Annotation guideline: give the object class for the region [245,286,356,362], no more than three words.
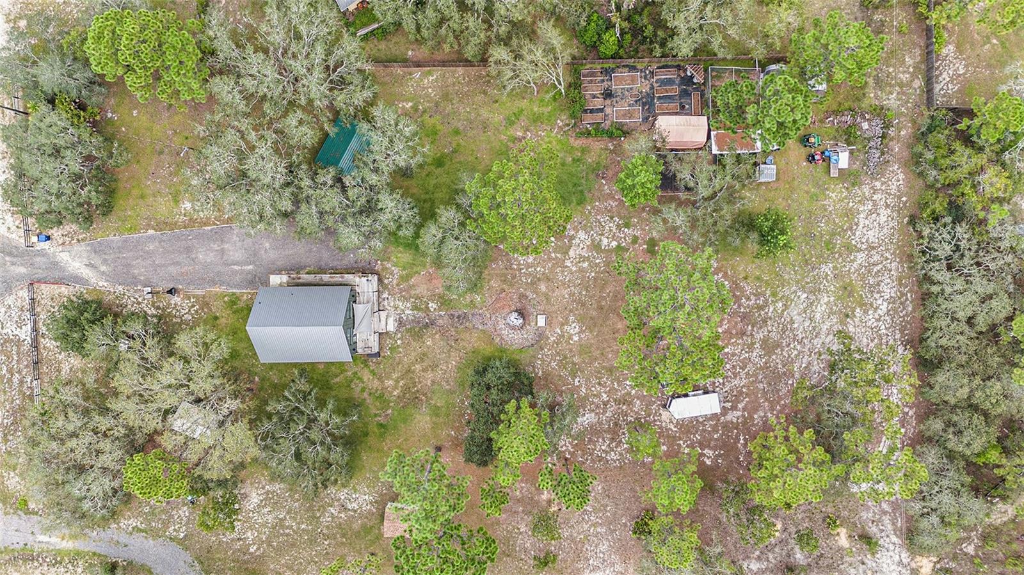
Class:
house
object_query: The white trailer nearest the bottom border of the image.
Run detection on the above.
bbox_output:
[660,391,721,419]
